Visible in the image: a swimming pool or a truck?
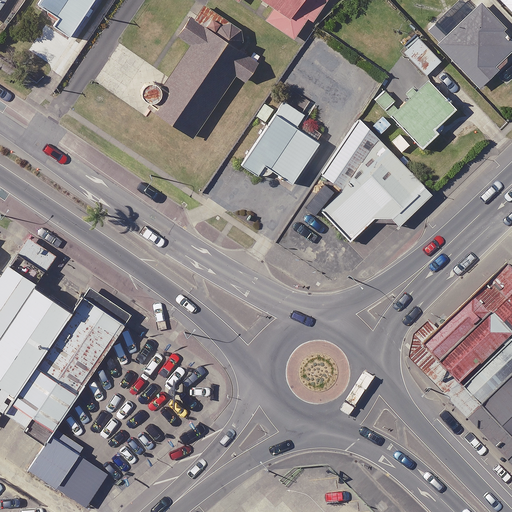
truck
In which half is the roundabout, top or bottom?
bottom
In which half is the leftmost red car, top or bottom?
top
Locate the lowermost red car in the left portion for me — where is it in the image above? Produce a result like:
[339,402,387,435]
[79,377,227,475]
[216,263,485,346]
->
[169,445,193,461]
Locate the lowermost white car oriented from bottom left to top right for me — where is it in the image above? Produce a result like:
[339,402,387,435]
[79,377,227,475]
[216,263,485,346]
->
[186,458,208,480]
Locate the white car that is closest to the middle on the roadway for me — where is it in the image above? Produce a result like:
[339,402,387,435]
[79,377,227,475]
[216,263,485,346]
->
[176,293,200,314]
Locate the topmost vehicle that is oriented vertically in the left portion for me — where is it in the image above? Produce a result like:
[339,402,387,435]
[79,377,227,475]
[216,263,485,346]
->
[154,303,167,330]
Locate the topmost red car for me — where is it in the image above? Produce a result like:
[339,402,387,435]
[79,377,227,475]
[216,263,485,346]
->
[42,144,70,164]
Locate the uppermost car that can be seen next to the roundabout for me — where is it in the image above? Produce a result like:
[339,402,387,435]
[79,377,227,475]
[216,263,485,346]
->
[289,310,316,328]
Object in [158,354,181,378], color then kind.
red truck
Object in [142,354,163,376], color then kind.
white vehicle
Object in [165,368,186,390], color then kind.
white car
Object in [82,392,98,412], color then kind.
black car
